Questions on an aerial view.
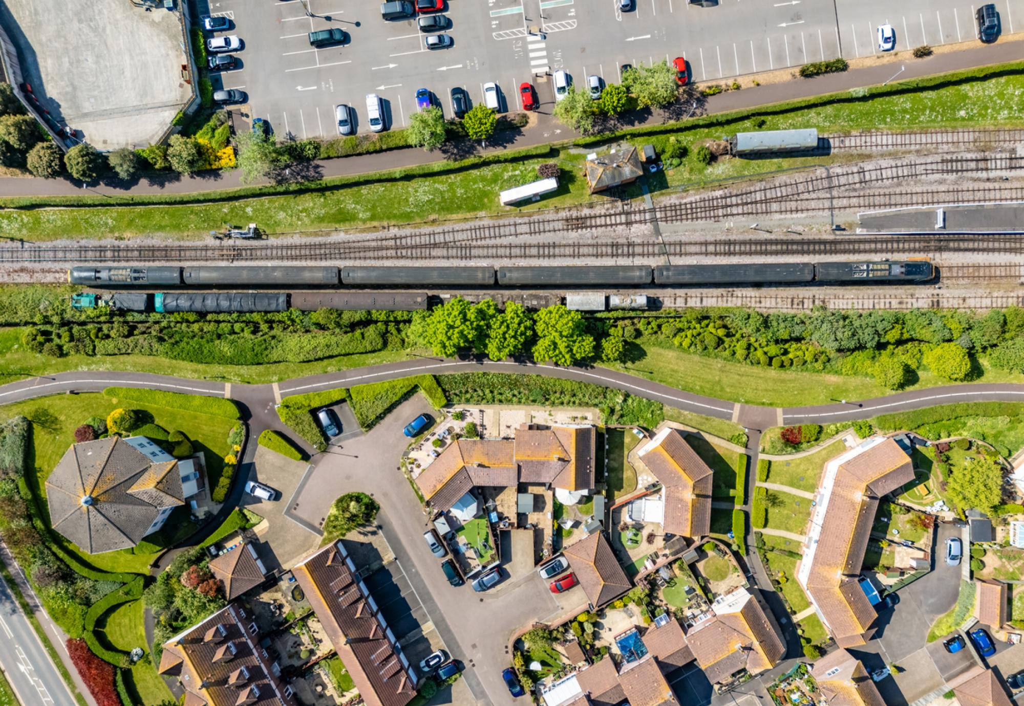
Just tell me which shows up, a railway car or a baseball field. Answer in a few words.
railway car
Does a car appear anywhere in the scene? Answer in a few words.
Yes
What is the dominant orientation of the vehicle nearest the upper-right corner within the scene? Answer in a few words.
up and down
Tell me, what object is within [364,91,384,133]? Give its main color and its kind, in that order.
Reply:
white vehicle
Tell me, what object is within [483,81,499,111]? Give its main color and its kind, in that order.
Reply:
white car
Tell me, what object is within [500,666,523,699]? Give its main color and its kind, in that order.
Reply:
blue car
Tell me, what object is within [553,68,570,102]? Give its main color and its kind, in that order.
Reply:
white car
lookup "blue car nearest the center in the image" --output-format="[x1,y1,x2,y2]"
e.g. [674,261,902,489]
[402,412,430,439]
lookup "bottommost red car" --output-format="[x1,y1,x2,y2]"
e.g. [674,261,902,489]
[548,571,579,594]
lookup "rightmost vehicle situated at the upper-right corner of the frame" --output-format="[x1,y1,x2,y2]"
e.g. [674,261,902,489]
[980,2,1000,43]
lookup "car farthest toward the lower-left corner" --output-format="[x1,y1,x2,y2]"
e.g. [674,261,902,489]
[244,480,278,503]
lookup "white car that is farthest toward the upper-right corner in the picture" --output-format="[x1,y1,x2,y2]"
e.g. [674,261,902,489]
[877,22,895,52]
